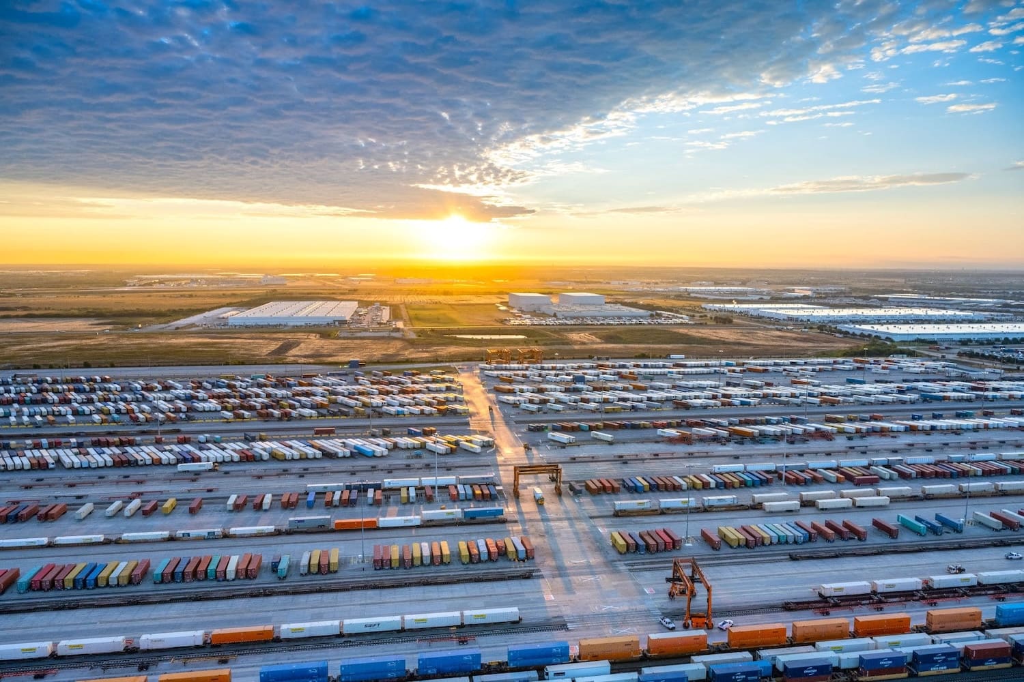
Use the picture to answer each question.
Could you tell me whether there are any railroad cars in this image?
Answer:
Yes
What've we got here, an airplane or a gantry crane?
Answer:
gantry crane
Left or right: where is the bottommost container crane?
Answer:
right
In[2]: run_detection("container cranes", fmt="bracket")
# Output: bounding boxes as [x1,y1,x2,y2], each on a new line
[515,346,541,364]
[664,555,718,628]
[512,460,561,497]
[485,346,510,364]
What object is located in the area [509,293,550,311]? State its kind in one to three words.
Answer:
building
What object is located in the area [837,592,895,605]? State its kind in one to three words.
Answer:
rail car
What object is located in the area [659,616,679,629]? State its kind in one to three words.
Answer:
vehicle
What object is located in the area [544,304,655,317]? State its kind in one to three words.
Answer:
building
